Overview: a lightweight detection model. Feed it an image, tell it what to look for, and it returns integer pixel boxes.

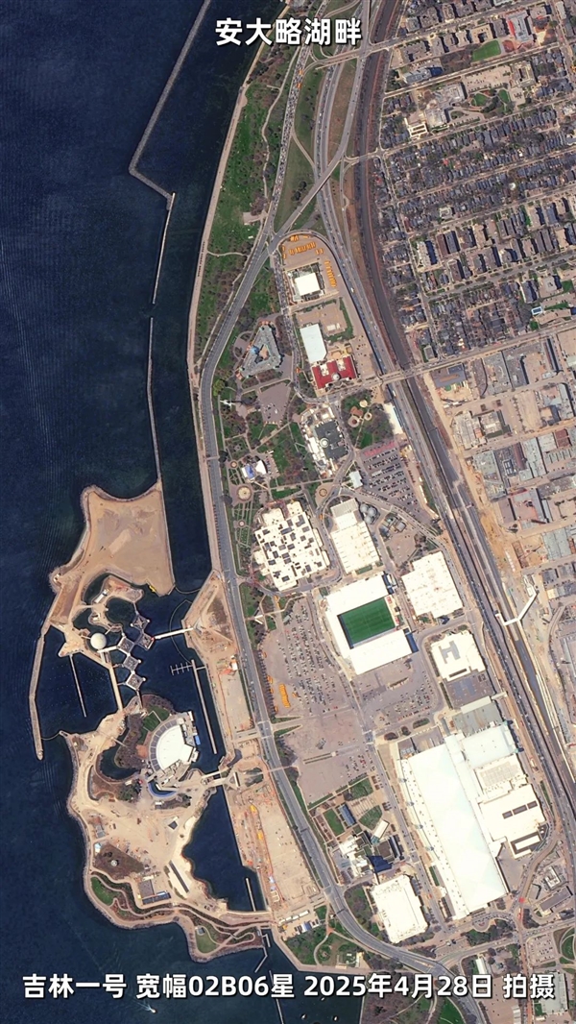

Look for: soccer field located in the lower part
[340,598,395,645]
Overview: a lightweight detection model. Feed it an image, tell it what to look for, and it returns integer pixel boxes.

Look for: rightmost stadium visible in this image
[324,571,413,673]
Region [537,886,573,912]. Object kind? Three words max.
shed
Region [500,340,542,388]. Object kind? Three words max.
building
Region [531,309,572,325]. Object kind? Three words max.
building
